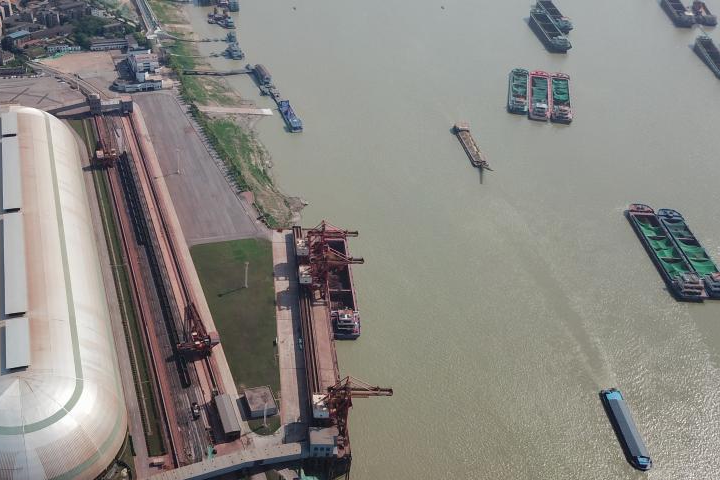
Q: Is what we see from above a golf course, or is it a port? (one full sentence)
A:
What you see here is a port.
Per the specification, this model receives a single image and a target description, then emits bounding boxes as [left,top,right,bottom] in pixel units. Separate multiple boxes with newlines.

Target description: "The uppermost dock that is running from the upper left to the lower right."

[250,62,277,86]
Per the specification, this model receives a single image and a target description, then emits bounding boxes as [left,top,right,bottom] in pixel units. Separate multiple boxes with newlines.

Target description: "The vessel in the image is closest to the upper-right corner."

[690,0,716,27]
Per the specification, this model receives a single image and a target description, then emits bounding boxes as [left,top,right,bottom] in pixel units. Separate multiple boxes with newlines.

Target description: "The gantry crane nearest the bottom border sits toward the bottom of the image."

[313,373,393,430]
